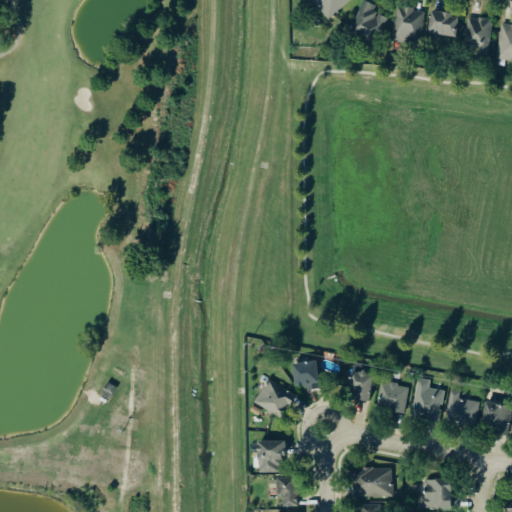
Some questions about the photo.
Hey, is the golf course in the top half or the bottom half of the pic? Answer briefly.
top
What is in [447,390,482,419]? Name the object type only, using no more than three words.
house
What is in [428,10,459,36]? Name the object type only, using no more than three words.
house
